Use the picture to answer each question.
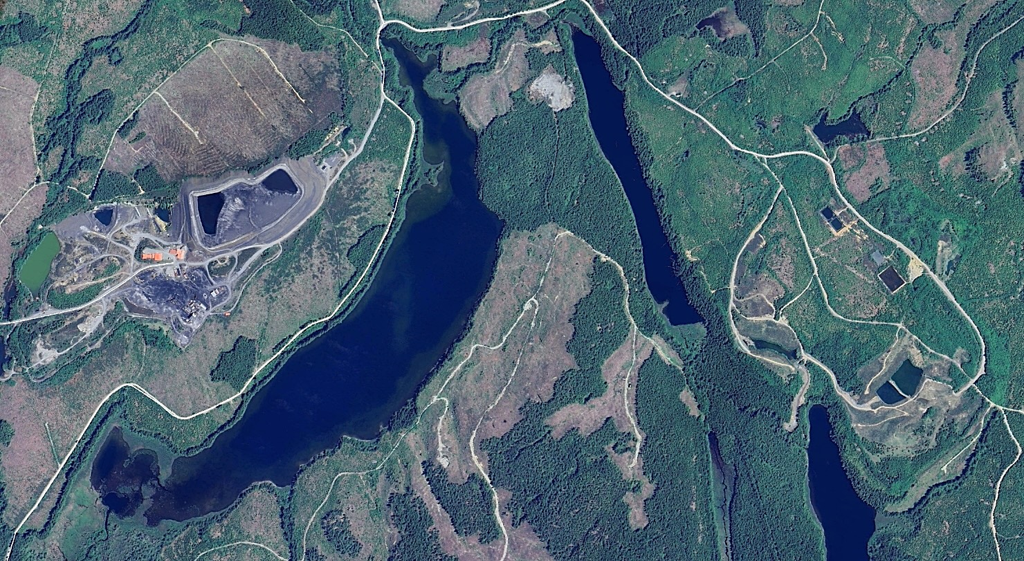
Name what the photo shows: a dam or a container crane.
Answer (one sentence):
I can see a dam in this picture.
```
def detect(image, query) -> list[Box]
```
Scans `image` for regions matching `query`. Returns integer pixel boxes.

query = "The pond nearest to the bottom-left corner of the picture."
[90,427,166,518]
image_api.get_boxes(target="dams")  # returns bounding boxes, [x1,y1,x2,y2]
[183,157,311,256]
